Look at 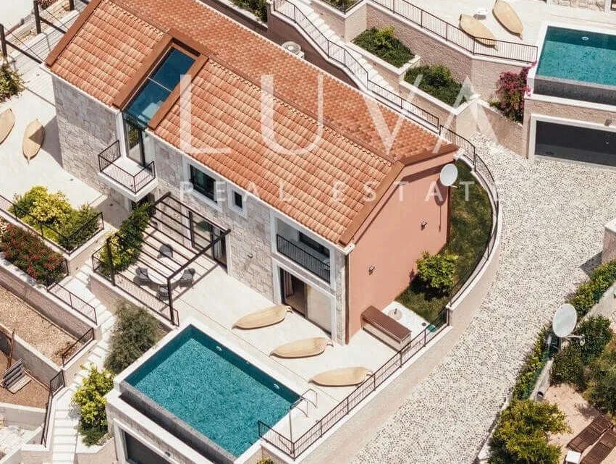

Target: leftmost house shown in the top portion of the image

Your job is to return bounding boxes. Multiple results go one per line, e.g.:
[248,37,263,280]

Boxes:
[38,0,461,346]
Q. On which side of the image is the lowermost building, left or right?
left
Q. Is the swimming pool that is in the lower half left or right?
left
